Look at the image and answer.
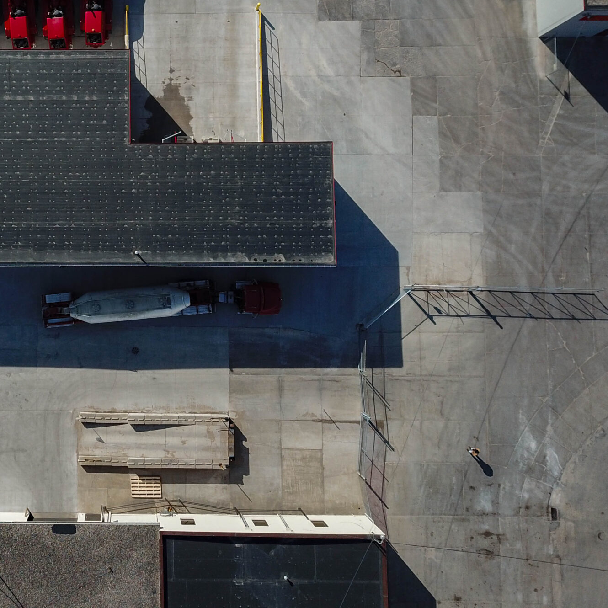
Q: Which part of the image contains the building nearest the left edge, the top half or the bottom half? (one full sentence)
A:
The building nearest the left edge sits in the bottom half of the picture.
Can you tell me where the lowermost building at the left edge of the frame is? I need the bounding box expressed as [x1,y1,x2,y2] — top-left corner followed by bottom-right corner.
[0,498,162,608]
